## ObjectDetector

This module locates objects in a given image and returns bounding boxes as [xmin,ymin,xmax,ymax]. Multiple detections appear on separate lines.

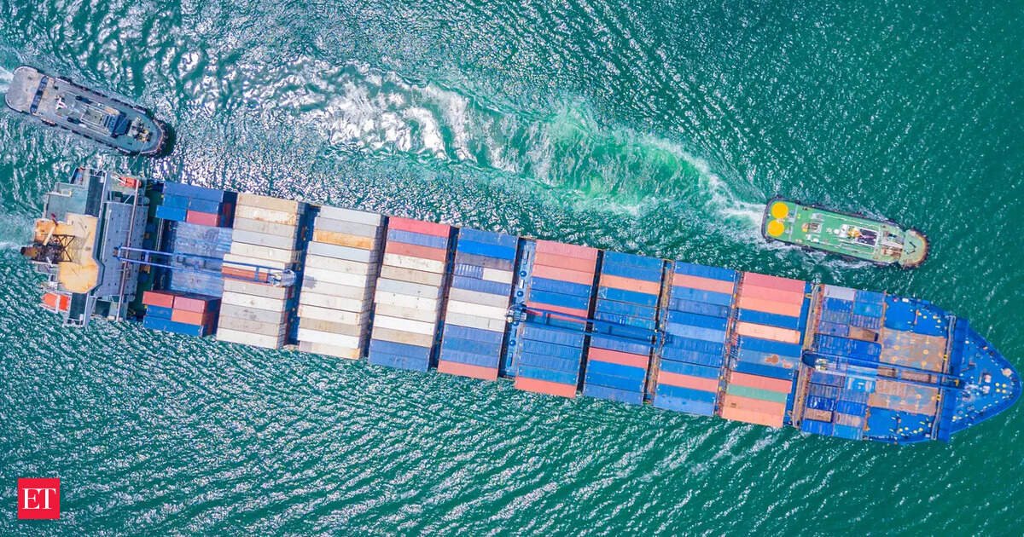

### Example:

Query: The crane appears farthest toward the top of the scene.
[117,245,309,286]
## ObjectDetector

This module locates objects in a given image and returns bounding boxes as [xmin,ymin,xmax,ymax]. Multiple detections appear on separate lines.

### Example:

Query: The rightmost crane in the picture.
[794,349,984,391]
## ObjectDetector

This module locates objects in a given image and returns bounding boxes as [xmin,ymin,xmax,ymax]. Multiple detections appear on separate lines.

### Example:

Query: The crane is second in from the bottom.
[505,301,669,341]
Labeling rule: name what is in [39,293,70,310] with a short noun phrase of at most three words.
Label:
boat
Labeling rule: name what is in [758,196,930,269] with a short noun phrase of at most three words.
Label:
boat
